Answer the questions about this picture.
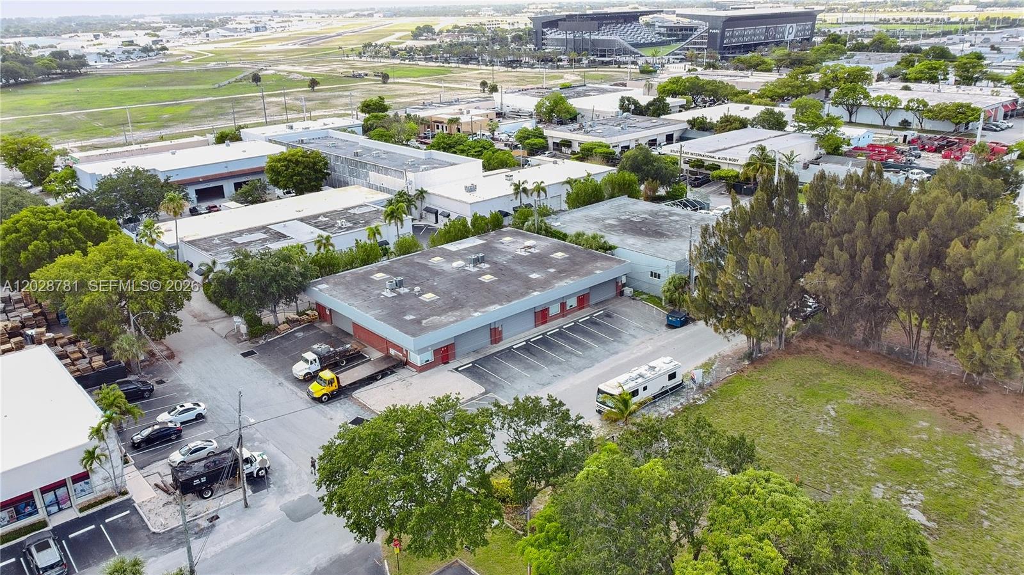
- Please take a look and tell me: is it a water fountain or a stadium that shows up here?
stadium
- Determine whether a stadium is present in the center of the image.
No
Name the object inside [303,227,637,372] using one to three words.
building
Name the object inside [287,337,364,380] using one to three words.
truck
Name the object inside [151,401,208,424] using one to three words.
car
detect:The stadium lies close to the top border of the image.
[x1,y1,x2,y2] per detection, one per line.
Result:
[515,9,829,62]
